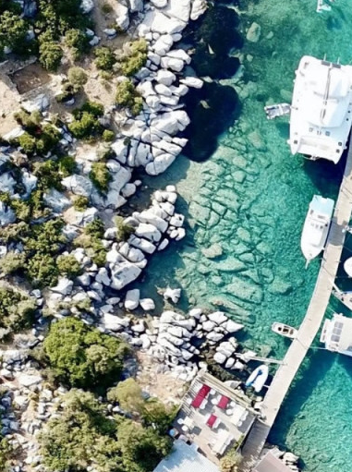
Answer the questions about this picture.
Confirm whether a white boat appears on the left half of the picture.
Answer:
No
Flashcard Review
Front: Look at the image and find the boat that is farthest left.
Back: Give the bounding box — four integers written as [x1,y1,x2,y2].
[244,365,270,394]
